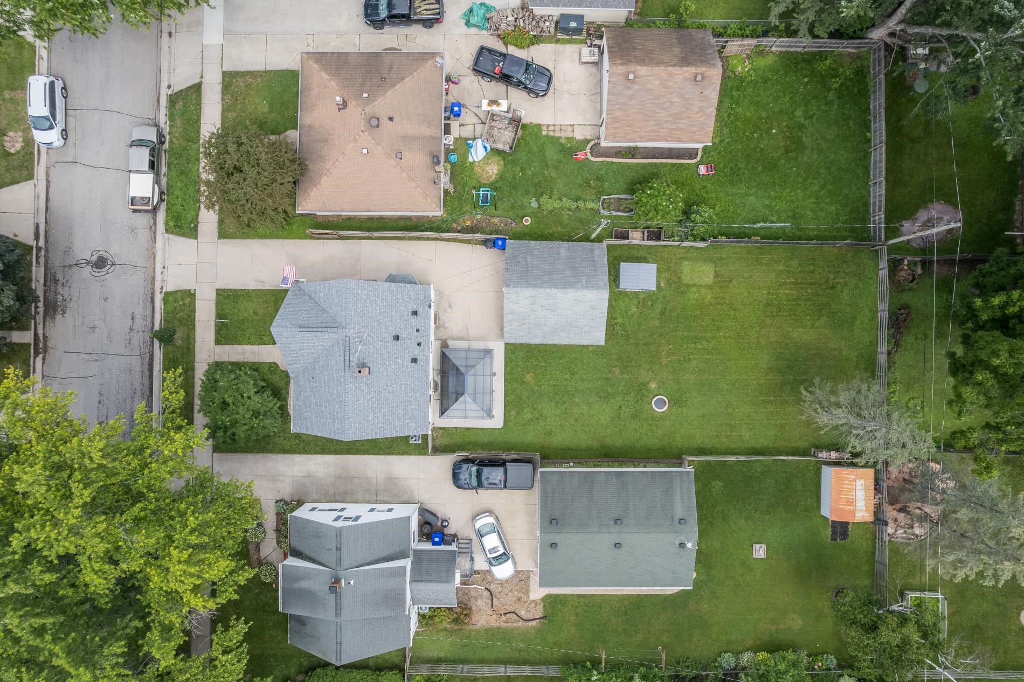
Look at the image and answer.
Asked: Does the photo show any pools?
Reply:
No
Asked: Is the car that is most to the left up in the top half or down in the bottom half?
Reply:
top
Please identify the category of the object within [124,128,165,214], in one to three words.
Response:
truck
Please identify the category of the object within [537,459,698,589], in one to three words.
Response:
building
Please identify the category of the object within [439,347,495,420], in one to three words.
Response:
gazebo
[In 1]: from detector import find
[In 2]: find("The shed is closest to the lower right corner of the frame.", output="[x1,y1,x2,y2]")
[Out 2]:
[821,465,874,522]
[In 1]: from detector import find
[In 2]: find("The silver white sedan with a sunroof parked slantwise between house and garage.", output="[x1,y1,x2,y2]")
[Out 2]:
[473,512,515,582]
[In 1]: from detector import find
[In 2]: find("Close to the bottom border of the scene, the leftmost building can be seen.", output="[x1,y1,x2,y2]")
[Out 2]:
[277,507,460,669]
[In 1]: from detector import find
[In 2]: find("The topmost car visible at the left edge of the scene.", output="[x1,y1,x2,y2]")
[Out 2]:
[26,76,67,149]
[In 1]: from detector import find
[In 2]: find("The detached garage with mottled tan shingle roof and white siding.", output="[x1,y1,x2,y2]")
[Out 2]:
[600,28,722,148]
